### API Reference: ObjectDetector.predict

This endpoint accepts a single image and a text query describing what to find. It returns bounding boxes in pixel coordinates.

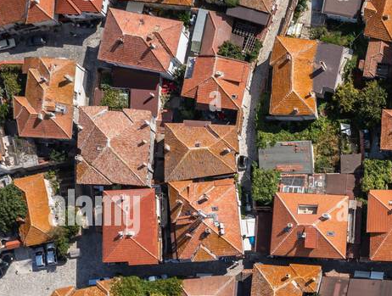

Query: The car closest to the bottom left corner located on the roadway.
[0,257,14,278]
